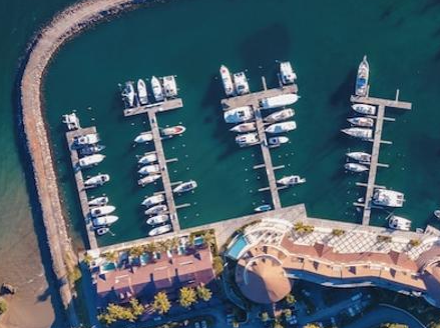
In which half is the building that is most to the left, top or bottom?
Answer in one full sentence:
You can find the building that is most to the left in the bottom half.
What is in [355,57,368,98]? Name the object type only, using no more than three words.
boat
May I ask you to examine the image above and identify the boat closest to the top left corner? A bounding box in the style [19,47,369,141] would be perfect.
[64,112,78,130]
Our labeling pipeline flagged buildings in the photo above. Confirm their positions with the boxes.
[231,239,440,305]
[97,244,222,309]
